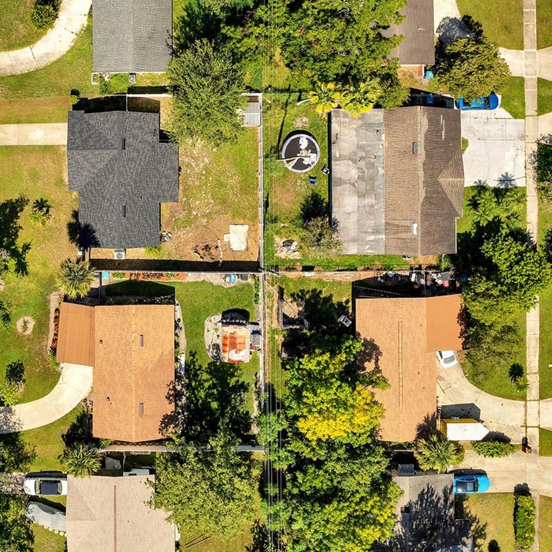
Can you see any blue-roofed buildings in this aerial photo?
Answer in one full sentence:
No, I find no blue-roofed building anywhere in the image.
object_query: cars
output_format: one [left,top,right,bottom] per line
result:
[453,91,498,112]
[446,471,489,495]
[23,473,70,496]
[437,350,456,369]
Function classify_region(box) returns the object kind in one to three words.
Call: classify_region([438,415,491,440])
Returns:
trailer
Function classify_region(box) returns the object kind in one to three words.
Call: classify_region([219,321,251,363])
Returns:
shed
